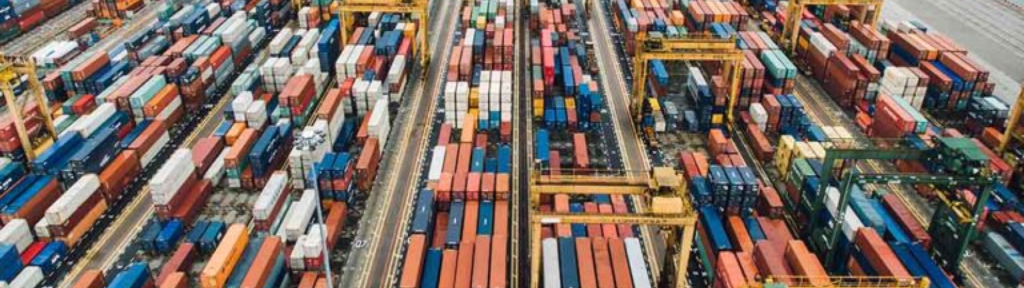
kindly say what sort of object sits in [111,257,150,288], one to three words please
shipping container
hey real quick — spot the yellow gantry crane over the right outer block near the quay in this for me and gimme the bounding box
[780,0,886,63]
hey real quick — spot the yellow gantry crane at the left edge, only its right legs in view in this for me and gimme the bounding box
[0,53,60,150]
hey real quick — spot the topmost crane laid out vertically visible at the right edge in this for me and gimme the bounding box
[1002,95,1024,193]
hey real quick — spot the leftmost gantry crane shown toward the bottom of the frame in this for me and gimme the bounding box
[529,166,694,288]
